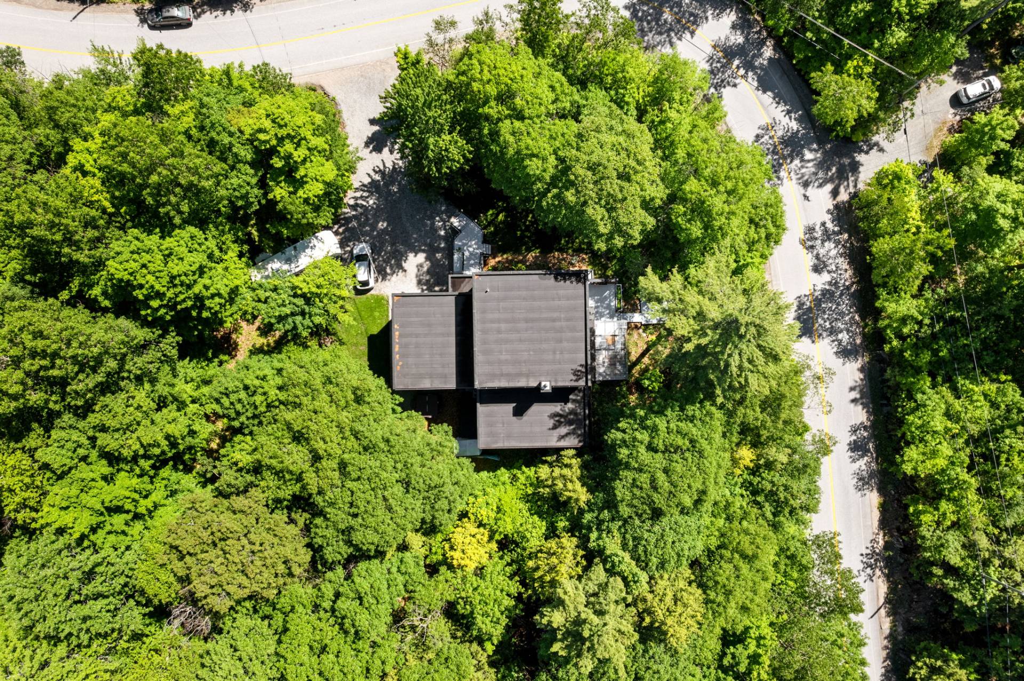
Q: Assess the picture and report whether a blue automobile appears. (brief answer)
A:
No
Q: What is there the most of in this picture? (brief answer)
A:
trees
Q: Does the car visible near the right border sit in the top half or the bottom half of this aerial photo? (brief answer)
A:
top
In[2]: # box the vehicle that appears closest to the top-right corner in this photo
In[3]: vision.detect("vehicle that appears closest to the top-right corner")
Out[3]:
[953,73,1001,107]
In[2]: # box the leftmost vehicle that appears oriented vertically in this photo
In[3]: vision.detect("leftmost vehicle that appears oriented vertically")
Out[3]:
[352,245,376,291]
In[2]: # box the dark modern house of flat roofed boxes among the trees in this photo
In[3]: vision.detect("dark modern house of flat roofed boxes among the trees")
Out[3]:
[392,270,591,450]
